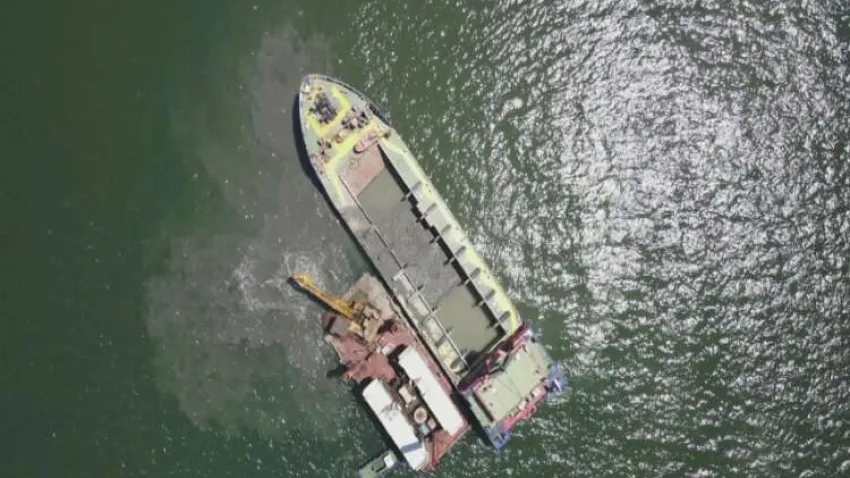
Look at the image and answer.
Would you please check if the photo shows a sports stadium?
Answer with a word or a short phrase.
No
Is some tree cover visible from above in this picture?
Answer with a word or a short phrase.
No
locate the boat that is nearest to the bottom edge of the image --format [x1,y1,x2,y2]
[360,448,400,478]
